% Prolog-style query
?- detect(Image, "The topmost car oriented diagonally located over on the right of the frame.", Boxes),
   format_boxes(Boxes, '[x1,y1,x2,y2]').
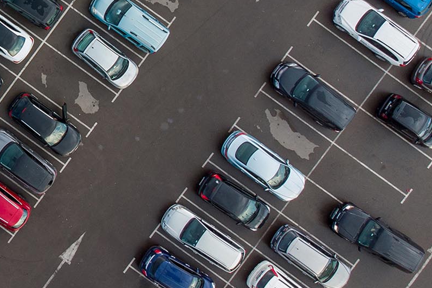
[330,0,428,69]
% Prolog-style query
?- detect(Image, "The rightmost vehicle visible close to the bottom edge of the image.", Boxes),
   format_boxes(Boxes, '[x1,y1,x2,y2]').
[323,195,427,277]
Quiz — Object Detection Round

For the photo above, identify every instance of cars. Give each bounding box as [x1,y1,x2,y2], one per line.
[330,0,428,69]
[0,127,61,200]
[0,13,36,66]
[371,90,432,152]
[381,0,432,20]
[4,88,83,158]
[242,257,303,288]
[159,202,250,279]
[68,25,139,91]
[0,0,66,33]
[267,221,352,288]
[87,0,175,58]
[267,60,362,135]
[0,181,35,236]
[194,169,270,234]
[218,130,305,204]
[137,244,214,288]
[407,56,432,99]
